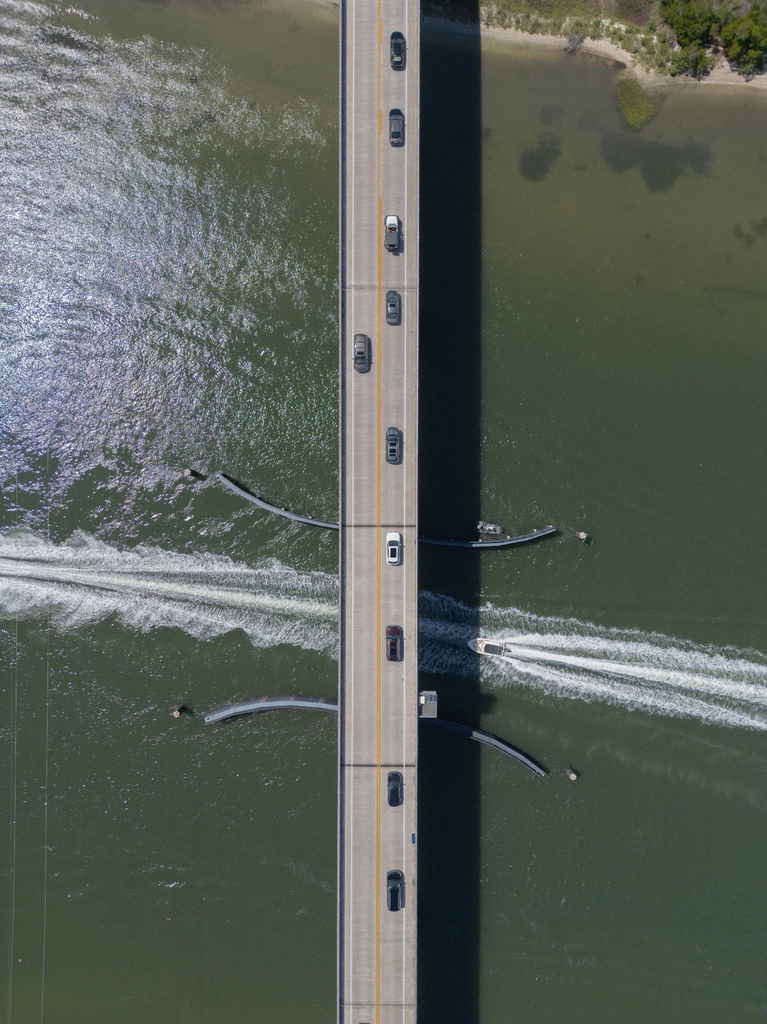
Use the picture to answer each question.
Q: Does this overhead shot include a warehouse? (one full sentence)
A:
No, there is no warehouse in the image.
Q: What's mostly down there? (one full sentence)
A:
The scene is dominated by water.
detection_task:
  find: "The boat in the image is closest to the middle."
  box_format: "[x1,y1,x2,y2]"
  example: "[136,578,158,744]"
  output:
[476,521,504,534]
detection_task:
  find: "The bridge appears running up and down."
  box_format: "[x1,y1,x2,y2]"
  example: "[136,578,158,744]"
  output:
[337,0,420,1024]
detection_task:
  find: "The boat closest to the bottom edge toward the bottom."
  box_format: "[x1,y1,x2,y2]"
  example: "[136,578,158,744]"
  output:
[467,639,508,656]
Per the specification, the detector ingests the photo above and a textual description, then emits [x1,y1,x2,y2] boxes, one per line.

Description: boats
[467,639,508,656]
[476,521,504,534]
